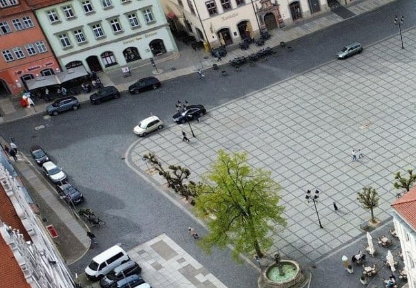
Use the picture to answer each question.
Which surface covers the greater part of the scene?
paved ground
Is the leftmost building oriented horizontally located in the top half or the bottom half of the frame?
top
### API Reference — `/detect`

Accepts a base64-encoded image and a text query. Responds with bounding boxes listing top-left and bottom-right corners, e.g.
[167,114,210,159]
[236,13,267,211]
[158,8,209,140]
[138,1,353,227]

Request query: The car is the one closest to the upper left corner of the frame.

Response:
[44,91,80,113]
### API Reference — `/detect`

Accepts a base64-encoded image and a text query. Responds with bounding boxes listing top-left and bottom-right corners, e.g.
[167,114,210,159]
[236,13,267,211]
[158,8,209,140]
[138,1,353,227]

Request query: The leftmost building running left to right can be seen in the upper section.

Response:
[31,0,175,69]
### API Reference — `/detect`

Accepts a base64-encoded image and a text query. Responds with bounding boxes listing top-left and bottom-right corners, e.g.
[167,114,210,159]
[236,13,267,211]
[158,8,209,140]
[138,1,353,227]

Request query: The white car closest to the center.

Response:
[132,115,164,134]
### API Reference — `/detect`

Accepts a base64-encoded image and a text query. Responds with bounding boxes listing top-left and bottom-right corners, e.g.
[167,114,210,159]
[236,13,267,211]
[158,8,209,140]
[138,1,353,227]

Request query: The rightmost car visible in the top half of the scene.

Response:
[335,39,364,57]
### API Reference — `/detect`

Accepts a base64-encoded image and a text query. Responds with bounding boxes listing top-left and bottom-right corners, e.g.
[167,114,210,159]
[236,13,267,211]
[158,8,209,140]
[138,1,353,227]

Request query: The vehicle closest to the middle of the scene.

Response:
[172,104,206,122]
